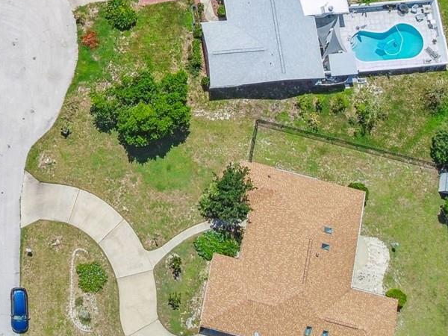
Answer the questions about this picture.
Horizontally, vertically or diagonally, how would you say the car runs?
vertically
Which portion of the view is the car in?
bottom left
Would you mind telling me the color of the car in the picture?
blue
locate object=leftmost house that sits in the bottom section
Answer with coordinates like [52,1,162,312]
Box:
[200,163,398,336]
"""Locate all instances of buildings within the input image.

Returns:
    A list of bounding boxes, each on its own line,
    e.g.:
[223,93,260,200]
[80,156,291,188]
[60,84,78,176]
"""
[428,174,448,192]
[200,163,398,336]
[202,0,324,89]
